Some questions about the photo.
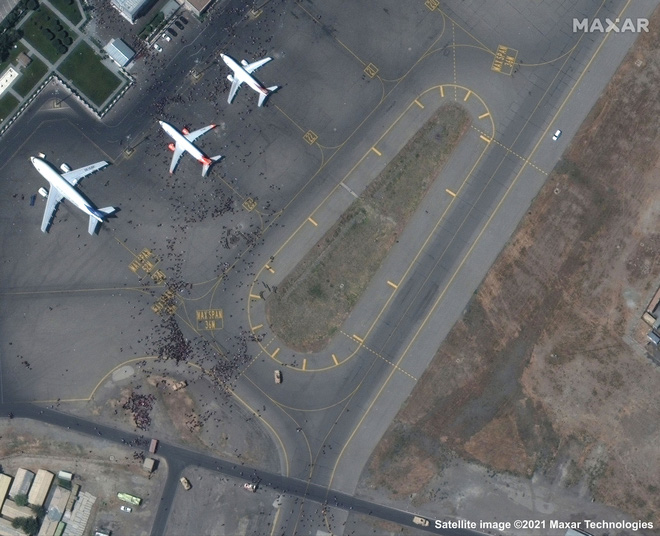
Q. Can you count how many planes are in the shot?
3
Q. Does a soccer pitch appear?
No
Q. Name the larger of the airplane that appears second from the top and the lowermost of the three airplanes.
the lowermost of the three airplanes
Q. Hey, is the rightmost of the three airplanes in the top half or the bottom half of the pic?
top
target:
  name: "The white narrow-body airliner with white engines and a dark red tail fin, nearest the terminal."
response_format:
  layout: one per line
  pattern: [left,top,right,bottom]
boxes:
[220,54,278,106]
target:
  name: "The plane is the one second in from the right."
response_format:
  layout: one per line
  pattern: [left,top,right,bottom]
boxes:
[159,120,222,173]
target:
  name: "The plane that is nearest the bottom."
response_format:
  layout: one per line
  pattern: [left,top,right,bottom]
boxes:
[32,157,114,233]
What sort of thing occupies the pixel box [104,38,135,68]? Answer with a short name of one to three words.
building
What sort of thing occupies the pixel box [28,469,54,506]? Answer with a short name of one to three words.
shed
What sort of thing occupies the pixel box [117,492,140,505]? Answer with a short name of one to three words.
vehicle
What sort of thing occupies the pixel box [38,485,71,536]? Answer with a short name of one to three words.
building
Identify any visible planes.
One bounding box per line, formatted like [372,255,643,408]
[159,120,222,173]
[32,157,114,233]
[220,54,278,106]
